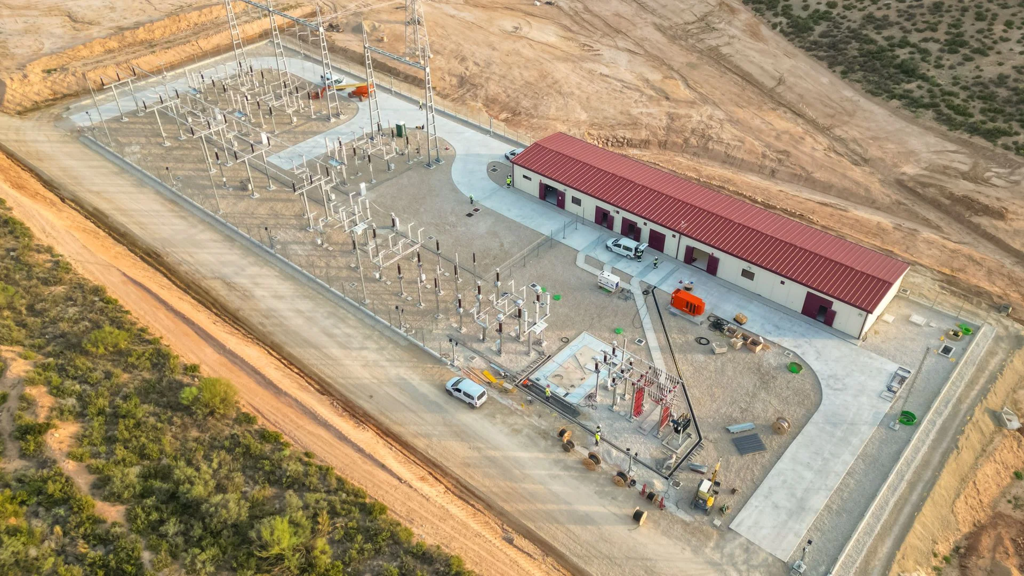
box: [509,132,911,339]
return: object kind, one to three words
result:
building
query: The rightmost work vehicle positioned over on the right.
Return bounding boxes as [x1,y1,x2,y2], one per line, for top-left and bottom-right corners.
[690,461,725,511]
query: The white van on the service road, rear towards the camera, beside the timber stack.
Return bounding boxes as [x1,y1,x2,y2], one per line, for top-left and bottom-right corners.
[446,375,489,411]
